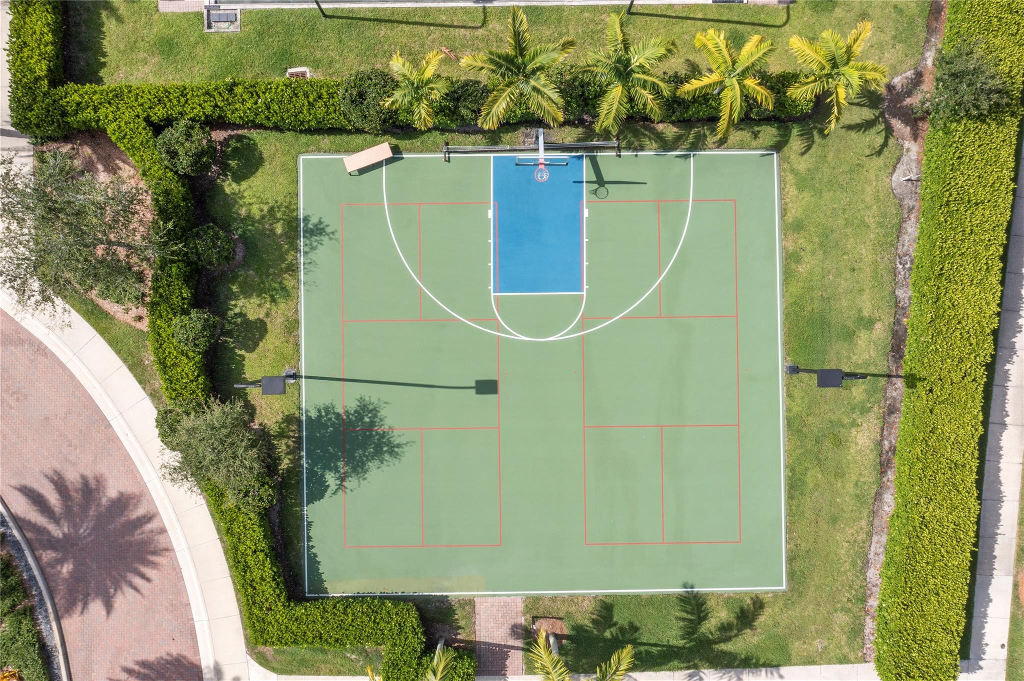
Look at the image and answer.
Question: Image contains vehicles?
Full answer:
No, there's no vehicle here.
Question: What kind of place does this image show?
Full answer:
What you see here is a sports ground.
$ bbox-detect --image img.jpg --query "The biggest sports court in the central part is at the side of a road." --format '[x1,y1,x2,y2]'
[298,149,787,600]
